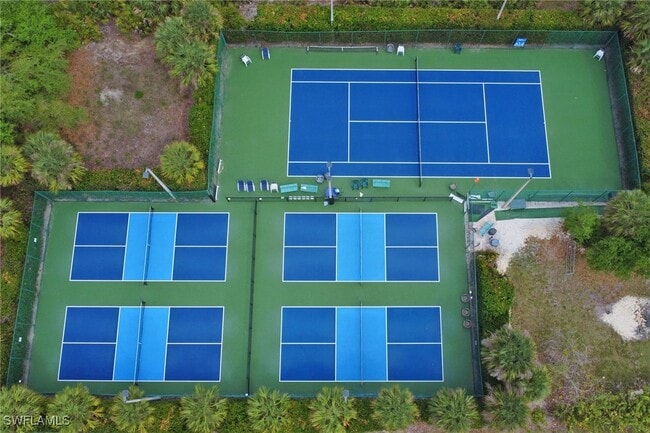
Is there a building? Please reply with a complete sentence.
No, no building can be seen from above.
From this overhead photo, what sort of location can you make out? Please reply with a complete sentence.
The area seen from above is a sports ground.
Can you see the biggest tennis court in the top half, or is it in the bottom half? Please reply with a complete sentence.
The biggest tennis court is in the top half of the image.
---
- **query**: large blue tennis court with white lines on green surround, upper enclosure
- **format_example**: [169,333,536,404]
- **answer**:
[218,48,621,202]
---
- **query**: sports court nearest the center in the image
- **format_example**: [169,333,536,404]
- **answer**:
[282,213,440,281]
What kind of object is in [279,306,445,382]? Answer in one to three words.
sports court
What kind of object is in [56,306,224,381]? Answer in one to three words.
sports court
